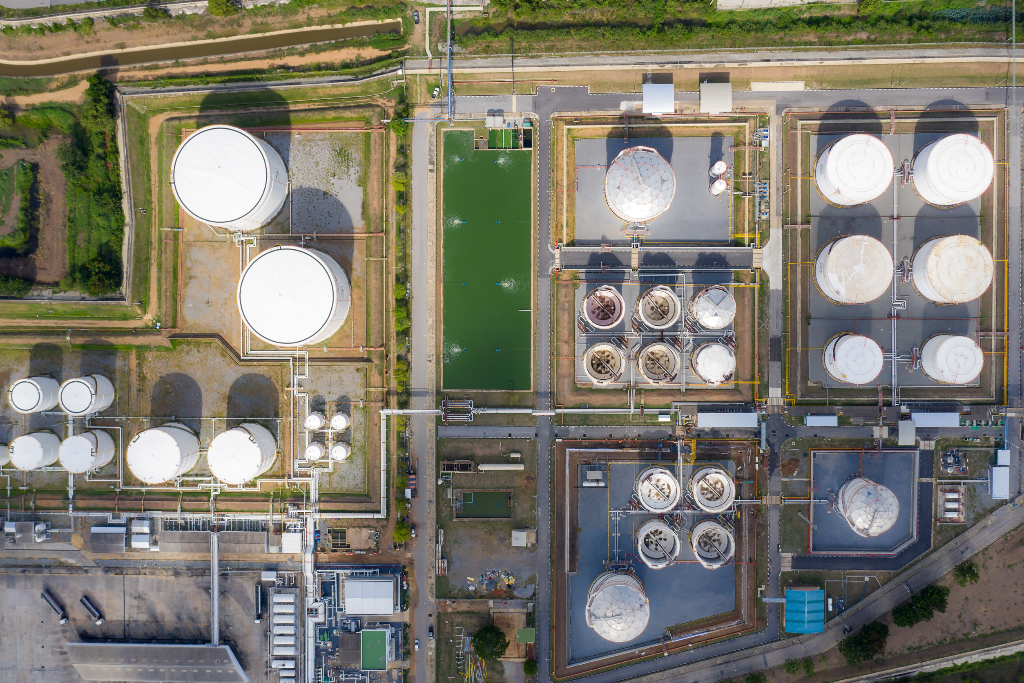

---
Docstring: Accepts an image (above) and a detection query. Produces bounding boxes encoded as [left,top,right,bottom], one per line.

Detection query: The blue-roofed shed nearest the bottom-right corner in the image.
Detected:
[782,586,824,634]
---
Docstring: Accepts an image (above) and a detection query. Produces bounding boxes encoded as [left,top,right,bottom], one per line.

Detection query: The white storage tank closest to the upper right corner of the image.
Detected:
[910,134,997,210]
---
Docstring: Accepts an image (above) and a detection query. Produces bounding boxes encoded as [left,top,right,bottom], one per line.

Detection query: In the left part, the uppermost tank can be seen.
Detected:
[169,122,291,235]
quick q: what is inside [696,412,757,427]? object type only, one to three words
shed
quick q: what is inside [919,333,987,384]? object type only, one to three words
storage tank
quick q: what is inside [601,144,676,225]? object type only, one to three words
storage tank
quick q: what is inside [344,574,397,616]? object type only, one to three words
building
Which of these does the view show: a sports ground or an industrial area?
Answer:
industrial area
